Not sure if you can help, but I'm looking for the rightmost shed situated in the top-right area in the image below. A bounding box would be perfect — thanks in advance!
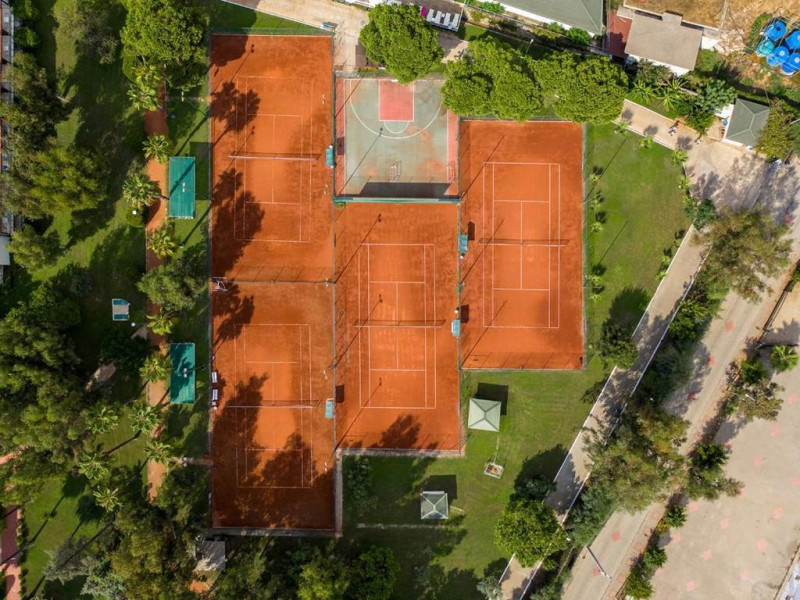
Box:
[717,98,770,154]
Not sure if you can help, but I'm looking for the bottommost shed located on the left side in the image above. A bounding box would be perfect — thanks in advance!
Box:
[195,536,228,571]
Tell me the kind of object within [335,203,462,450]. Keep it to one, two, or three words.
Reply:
tennis court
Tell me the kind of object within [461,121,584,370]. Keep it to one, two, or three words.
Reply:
tennis court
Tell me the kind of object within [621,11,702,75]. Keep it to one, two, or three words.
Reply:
house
